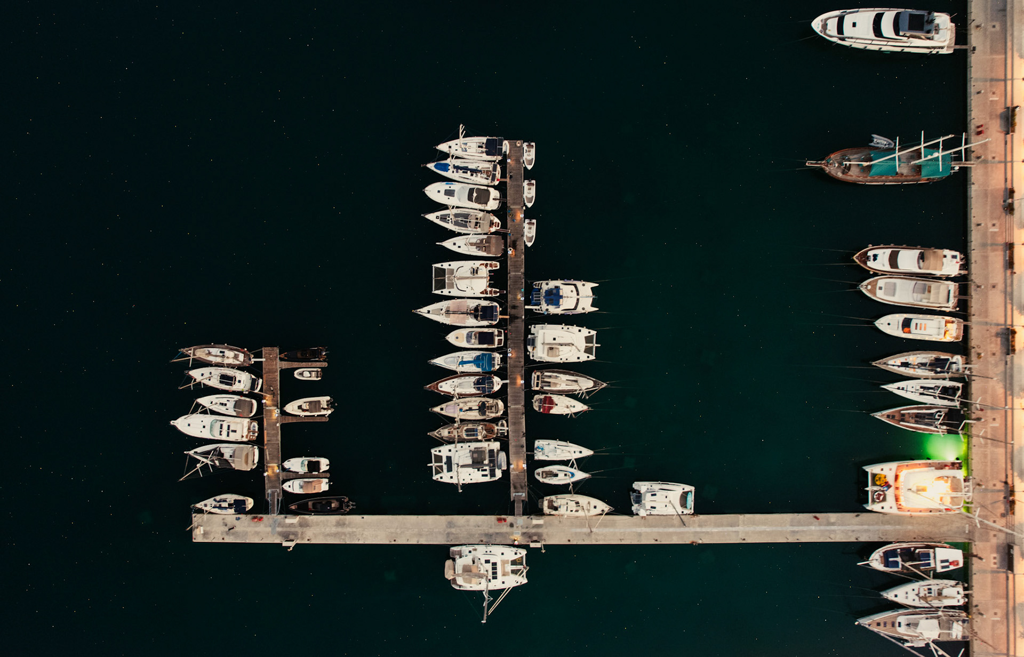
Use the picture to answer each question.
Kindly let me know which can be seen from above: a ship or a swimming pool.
ship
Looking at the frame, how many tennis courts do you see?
0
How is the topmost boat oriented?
from side to side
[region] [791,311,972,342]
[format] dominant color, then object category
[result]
white boat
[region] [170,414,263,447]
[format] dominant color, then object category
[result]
white boat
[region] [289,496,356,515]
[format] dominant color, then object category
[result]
black boat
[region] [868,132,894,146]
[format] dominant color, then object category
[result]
gray boat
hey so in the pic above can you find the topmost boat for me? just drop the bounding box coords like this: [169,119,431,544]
[771,7,968,54]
